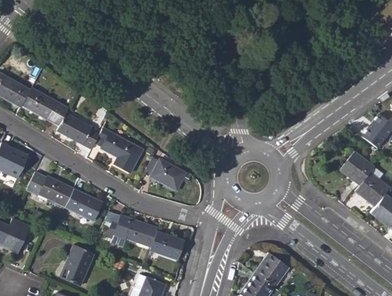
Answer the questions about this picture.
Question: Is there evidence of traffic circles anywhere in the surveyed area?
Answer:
Yes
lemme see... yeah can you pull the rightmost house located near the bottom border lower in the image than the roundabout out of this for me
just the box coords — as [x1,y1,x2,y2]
[236,252,290,296]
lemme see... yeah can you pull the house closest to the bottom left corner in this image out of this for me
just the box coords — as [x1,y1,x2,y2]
[0,218,29,251]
